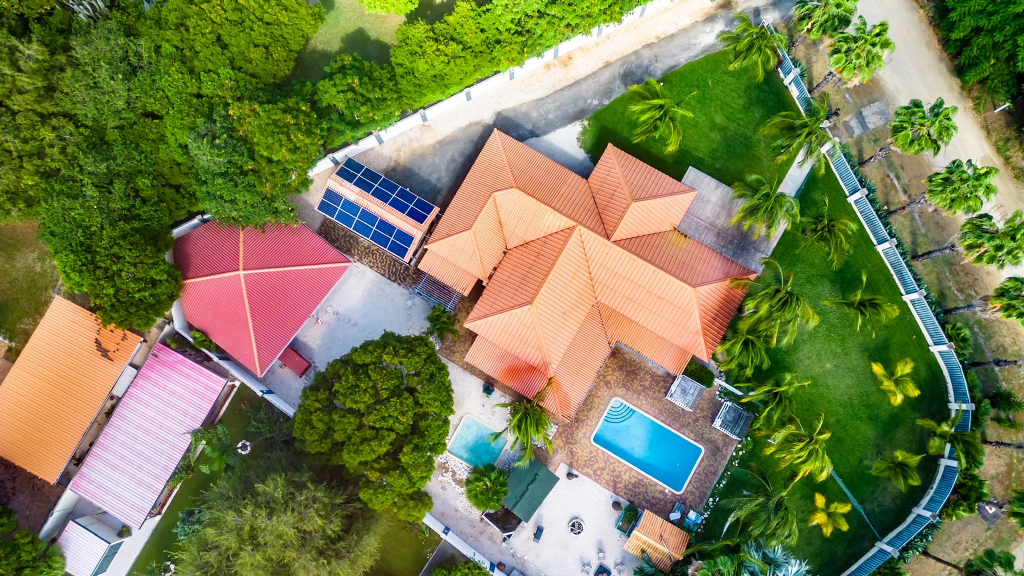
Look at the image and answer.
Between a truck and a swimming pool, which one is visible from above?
swimming pool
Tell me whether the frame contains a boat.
No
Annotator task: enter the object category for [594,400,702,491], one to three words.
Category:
swimming pool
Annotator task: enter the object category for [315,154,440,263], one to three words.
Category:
shed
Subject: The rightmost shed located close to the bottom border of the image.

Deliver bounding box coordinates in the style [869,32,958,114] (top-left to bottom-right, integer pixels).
[624,510,689,574]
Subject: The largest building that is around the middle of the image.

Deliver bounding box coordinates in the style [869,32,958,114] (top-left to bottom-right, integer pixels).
[418,127,759,423]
